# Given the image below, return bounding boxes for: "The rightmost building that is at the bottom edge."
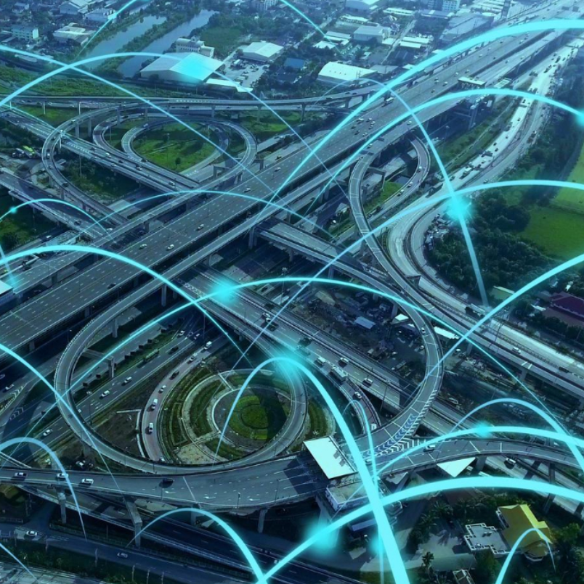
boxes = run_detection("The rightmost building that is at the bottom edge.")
[491,497,555,566]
